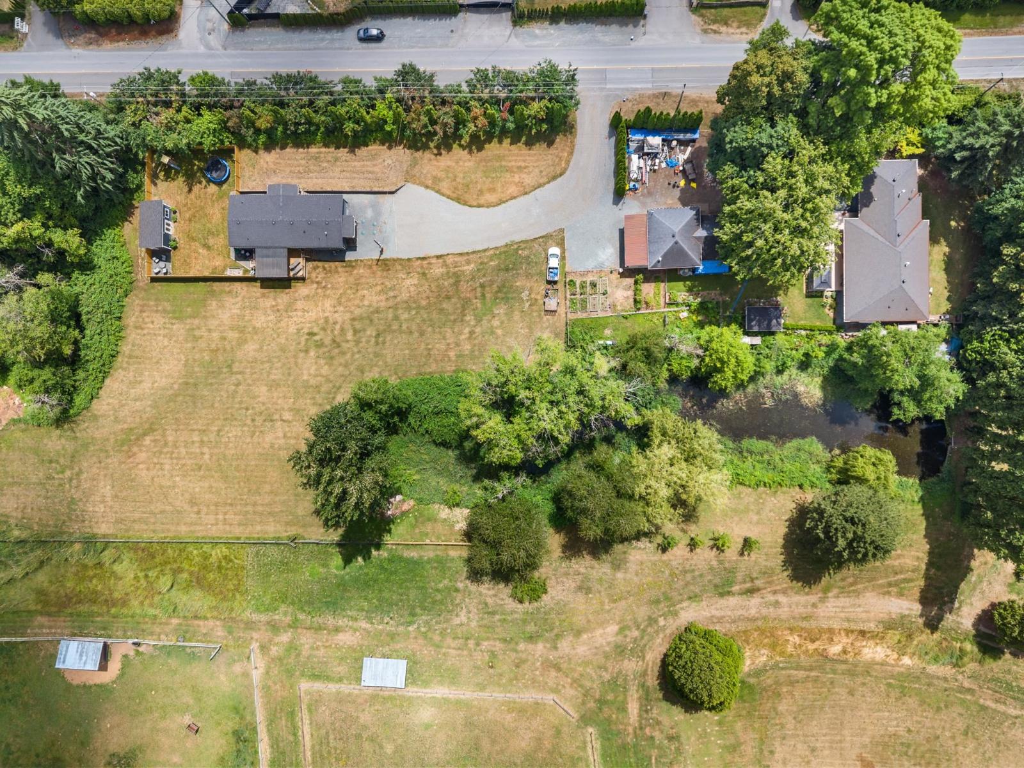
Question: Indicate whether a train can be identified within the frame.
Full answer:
No, I can't see a single train in this photo.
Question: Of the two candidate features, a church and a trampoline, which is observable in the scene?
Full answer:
Of the two, only a trampoline appears.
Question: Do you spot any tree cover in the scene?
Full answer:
Yes, the picture does contain tree cover.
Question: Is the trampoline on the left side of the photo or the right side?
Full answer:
The trampoline appears in the left half of the scene.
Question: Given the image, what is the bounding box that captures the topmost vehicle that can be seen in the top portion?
[357,28,386,43]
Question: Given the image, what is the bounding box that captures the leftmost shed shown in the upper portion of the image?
[140,200,171,250]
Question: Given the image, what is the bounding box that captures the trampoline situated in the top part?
[201,154,232,183]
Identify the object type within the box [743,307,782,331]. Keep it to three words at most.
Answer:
shed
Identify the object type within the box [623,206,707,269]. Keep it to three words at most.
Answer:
building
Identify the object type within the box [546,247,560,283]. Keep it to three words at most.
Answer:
vehicle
